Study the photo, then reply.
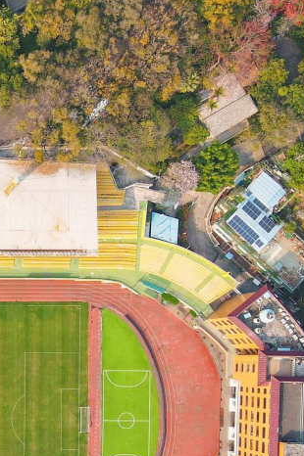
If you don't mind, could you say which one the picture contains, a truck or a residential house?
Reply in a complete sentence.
Visible in the photo is a residential house.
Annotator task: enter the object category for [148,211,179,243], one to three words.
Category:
shed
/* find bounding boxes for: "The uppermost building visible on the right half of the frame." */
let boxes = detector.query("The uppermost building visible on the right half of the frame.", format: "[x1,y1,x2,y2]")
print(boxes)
[193,73,256,139]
